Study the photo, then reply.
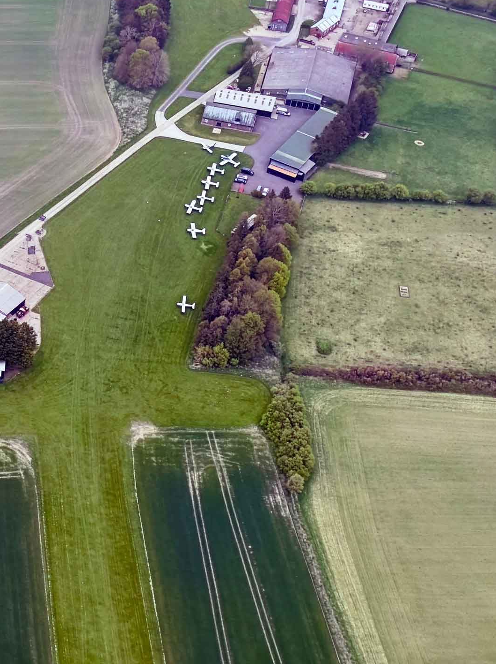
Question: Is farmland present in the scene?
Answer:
Yes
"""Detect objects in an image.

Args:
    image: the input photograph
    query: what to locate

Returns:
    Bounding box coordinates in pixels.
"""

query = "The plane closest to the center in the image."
[177,296,194,313]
